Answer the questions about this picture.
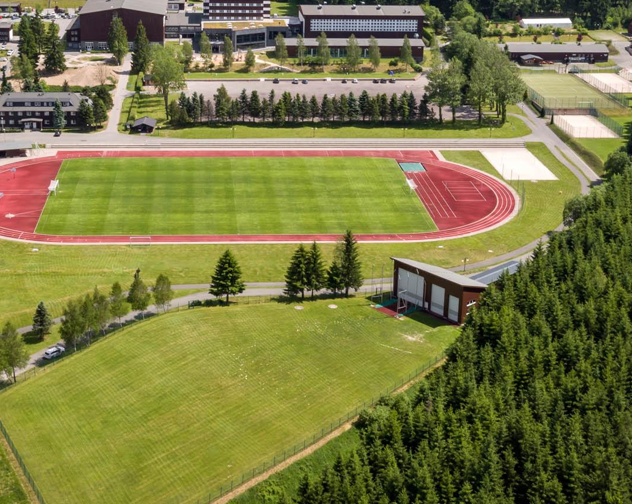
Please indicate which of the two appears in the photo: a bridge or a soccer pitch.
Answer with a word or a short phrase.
soccer pitch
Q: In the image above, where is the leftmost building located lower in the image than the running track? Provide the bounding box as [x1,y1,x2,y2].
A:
[389,257,490,324]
